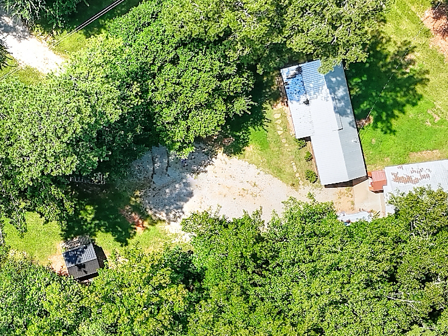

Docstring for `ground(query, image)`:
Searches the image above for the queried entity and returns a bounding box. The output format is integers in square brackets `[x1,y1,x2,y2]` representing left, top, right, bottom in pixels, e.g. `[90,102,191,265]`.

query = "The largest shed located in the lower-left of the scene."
[63,243,101,280]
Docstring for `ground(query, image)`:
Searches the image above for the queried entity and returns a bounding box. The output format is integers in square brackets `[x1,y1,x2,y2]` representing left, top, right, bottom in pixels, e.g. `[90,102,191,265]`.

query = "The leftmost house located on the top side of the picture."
[277,55,368,185]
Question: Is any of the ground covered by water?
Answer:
No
